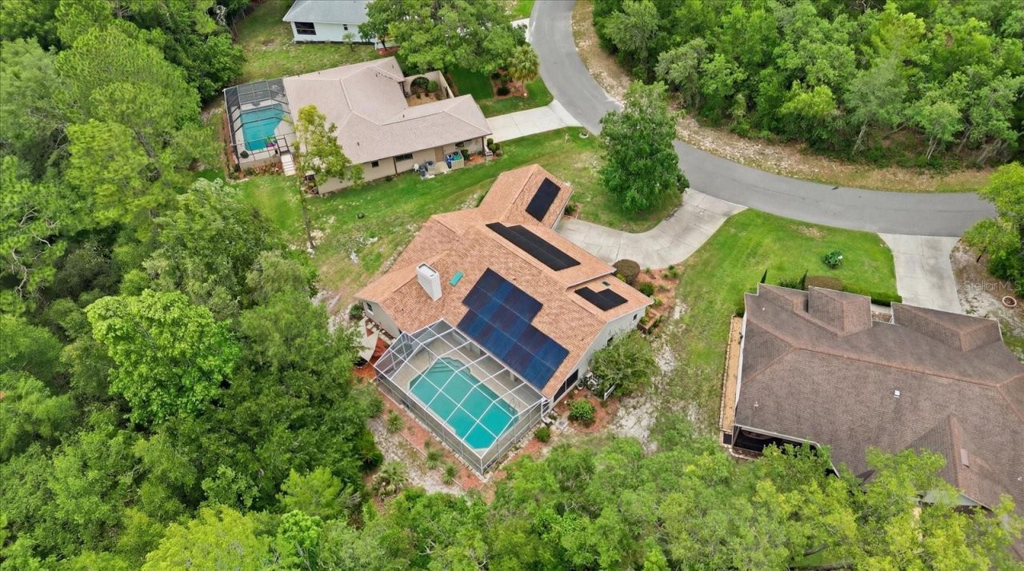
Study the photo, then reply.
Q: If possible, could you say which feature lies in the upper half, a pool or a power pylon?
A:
pool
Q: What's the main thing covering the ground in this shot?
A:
trees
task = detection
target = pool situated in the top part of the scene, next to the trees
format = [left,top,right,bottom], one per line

[240,99,286,152]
